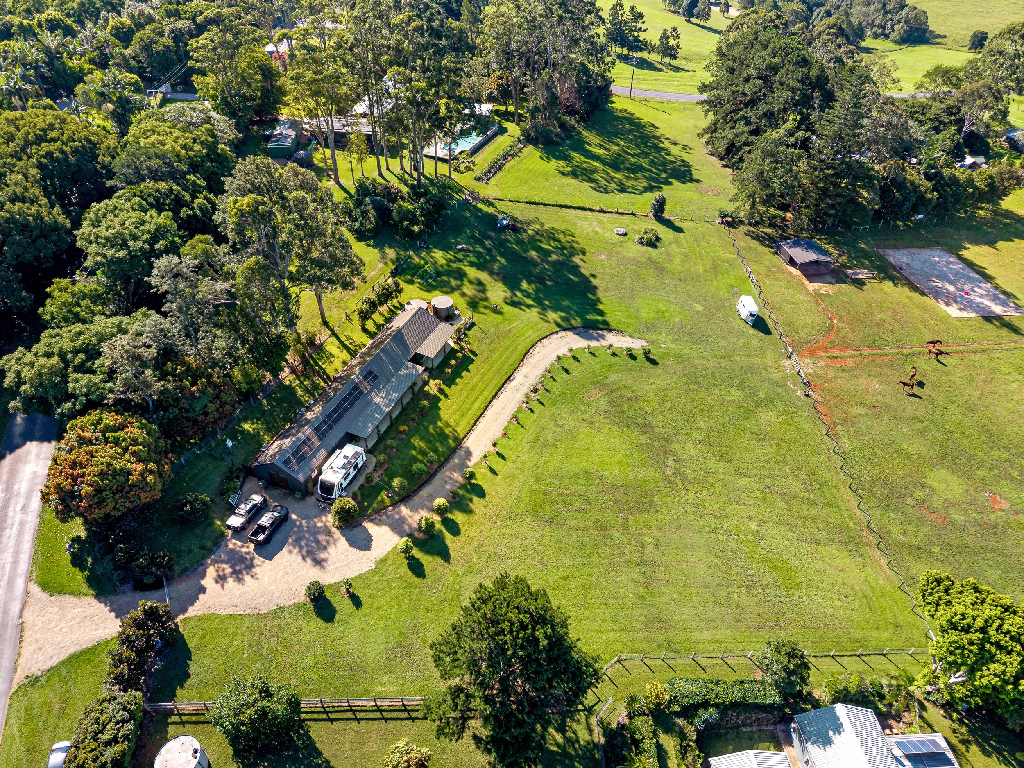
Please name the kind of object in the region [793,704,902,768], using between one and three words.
house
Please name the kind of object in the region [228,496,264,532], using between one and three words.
truck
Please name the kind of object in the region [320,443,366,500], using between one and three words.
camper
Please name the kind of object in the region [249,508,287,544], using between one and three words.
truck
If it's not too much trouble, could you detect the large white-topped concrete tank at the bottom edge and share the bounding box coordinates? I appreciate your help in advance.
[153,738,207,768]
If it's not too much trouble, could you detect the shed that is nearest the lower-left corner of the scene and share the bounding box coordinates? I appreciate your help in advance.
[253,308,460,493]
